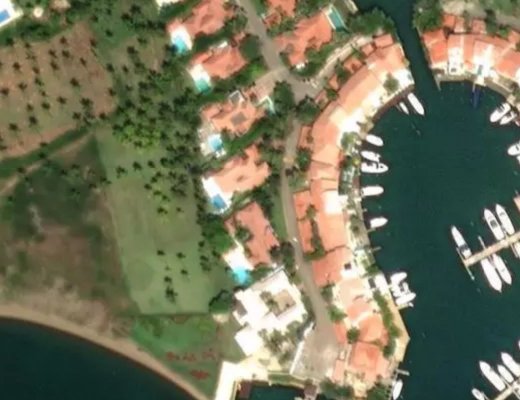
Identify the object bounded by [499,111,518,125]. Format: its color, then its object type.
white boat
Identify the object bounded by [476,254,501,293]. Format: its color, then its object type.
white boat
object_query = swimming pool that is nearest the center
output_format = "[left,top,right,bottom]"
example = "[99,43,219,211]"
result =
[201,179,232,214]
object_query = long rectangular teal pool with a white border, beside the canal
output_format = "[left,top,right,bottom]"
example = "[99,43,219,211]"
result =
[325,8,345,31]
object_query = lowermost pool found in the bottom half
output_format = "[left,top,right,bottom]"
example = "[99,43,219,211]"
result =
[225,245,254,285]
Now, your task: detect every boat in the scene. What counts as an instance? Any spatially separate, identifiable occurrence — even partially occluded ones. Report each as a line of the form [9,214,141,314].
[472,88,479,106]
[359,148,381,161]
[361,186,384,195]
[363,133,384,146]
[393,283,401,298]
[507,240,520,265]
[398,101,409,115]
[478,358,507,392]
[368,217,389,227]
[393,379,405,400]
[476,254,501,293]
[360,162,389,173]
[500,350,520,381]
[392,292,417,307]
[499,111,518,125]
[507,143,520,154]
[496,202,516,237]
[388,273,408,287]
[489,251,511,286]
[407,92,425,115]
[498,364,515,384]
[483,206,507,244]
[489,98,513,122]
[451,224,474,259]
[471,388,485,400]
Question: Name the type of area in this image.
residential area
